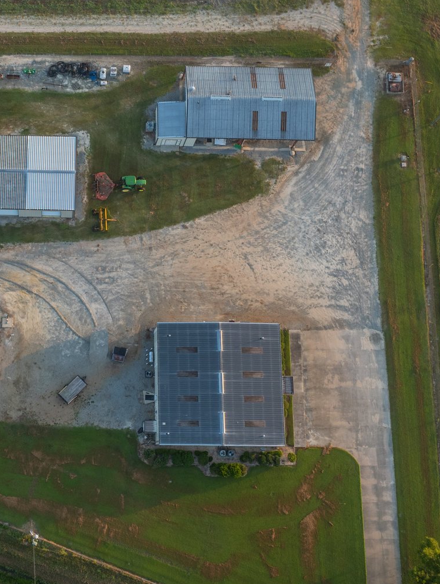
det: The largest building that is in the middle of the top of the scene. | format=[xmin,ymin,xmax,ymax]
[160,65,317,152]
